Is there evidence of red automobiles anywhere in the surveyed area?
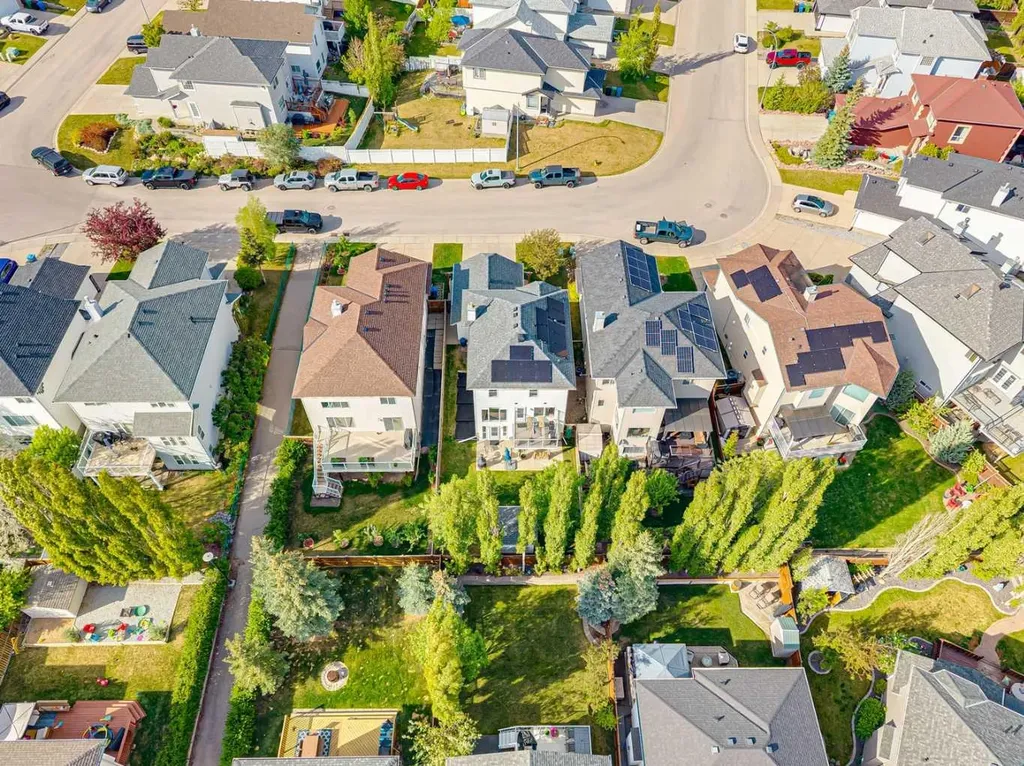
Yes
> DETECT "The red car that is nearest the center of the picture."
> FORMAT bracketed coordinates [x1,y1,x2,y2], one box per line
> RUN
[386,172,429,191]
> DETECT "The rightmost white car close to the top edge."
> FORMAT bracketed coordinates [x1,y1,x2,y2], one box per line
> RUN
[734,33,751,53]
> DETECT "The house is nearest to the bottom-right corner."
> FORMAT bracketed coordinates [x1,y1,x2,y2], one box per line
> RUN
[863,646,1024,766]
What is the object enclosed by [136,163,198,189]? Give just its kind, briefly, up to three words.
truck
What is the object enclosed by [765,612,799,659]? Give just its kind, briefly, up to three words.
shed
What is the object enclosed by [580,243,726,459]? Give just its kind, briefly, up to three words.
house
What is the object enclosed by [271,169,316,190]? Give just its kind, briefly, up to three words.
car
